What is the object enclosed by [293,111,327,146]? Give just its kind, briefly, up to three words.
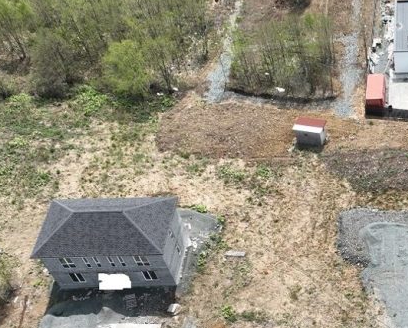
shed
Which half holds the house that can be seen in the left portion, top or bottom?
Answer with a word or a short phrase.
bottom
